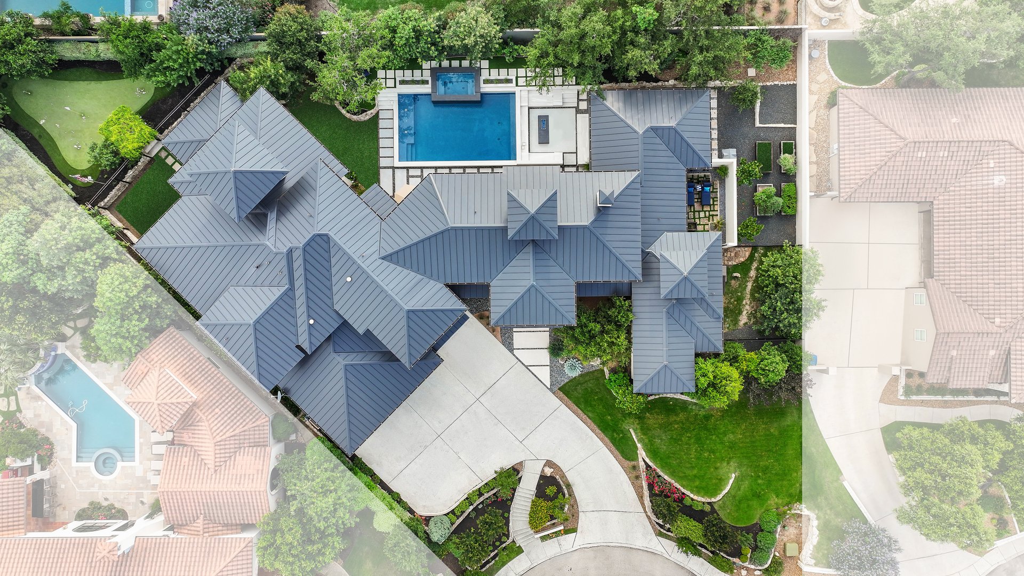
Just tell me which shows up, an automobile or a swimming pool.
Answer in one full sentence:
Visible in the photo is a swimming pool.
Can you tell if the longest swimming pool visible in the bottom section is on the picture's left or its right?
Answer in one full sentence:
It is on the left.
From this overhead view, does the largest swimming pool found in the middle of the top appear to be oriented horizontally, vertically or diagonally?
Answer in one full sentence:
What the image shows is the largest swimming pool found in the middle of the top lying horizontally.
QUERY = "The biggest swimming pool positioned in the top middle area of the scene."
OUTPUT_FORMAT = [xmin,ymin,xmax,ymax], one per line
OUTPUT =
[393,90,563,165]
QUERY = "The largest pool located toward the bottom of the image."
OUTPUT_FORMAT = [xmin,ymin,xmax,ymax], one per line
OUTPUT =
[32,343,140,466]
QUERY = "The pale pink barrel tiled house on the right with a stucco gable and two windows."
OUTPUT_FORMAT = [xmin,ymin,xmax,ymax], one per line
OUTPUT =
[823,86,1024,405]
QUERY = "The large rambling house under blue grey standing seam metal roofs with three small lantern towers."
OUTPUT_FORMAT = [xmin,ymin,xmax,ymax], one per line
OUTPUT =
[133,79,724,455]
